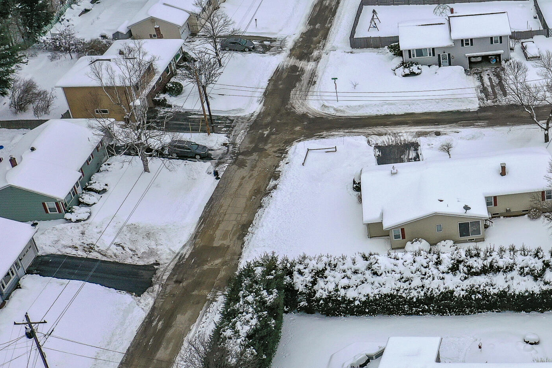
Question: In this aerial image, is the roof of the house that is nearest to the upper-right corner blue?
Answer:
No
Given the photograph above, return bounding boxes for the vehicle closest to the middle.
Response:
[165,142,208,161]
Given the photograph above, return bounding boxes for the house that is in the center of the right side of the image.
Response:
[359,154,552,248]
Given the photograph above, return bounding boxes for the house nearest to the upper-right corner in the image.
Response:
[399,10,513,69]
